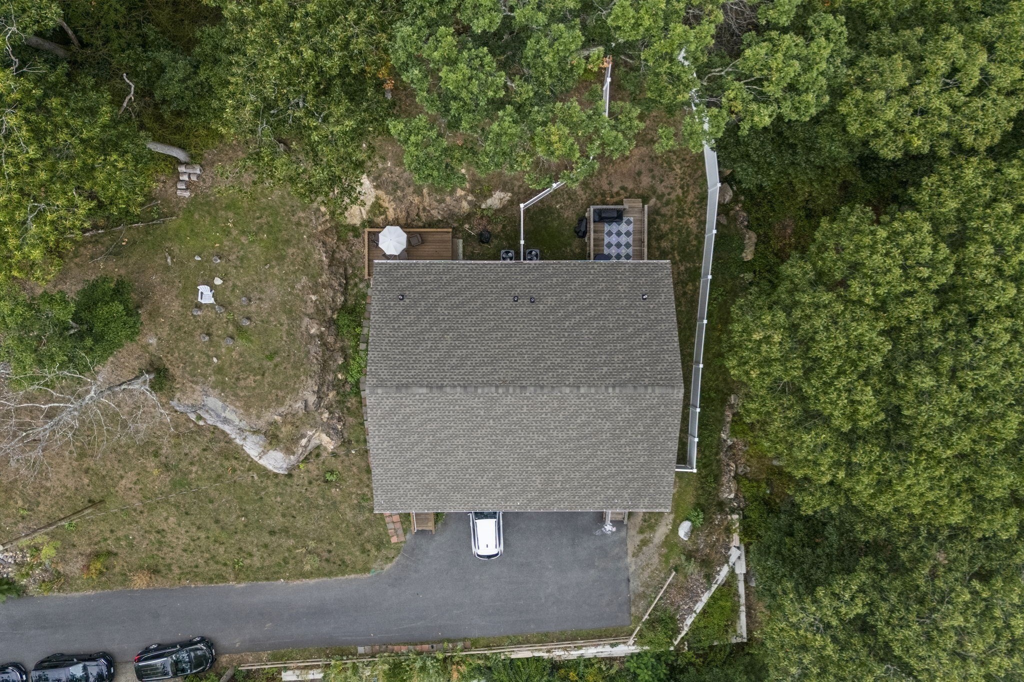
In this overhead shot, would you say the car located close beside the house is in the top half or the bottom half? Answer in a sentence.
The car located close beside the house is in the bottom half of the image.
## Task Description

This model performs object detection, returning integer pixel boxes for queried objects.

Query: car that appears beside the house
[470,514,504,560]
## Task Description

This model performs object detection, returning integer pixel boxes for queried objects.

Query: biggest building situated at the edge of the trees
[365,259,683,515]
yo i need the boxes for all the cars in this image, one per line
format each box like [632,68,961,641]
[132,636,216,682]
[30,650,118,682]
[470,514,504,560]
[0,664,30,682]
